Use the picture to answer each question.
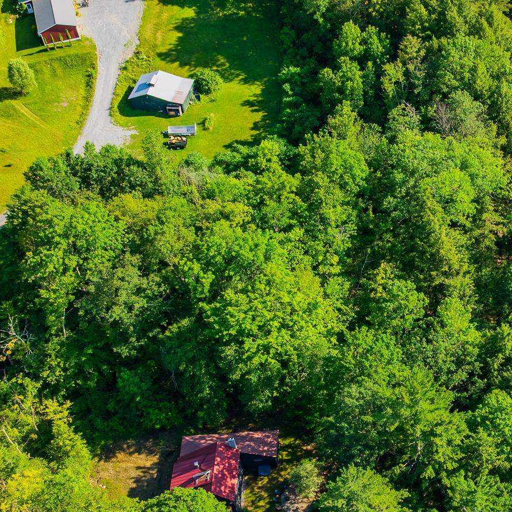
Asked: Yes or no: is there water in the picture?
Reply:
No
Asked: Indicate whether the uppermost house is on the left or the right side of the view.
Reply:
left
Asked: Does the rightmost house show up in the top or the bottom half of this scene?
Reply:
bottom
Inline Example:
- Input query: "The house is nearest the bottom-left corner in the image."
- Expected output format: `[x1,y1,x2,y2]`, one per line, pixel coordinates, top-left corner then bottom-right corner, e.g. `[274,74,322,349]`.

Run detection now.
[173,428,278,512]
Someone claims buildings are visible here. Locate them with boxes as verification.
[173,428,278,512]
[12,0,81,44]
[128,68,201,114]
